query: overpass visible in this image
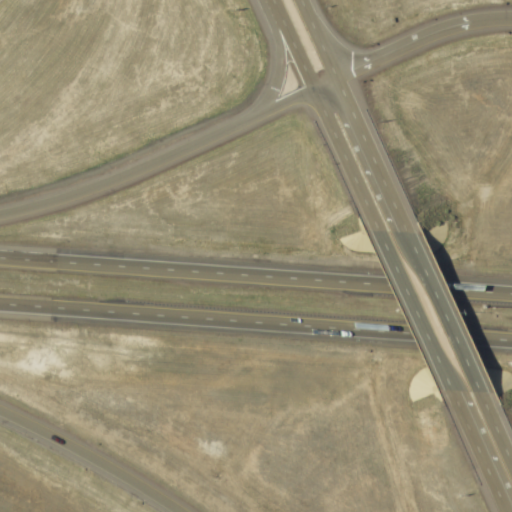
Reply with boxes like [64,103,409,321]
[340,221,512,406]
